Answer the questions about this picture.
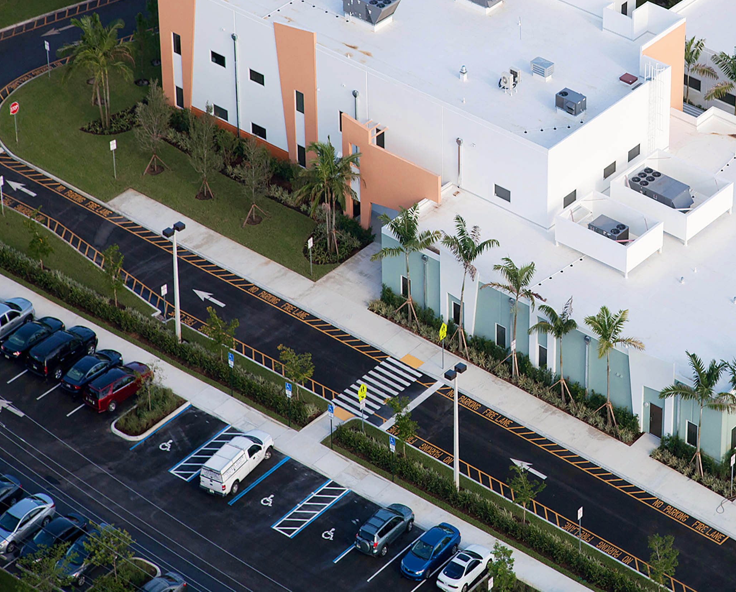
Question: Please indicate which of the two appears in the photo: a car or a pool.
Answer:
car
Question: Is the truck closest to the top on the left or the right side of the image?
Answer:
left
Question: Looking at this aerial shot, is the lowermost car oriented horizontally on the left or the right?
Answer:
left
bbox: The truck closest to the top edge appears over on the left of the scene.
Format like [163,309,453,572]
[0,295,37,335]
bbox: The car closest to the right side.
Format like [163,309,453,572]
[430,541,500,592]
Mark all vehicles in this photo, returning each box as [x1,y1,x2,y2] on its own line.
[0,295,37,335]
[0,474,19,505]
[22,326,102,382]
[28,507,95,564]
[83,363,158,415]
[0,496,59,554]
[394,525,465,582]
[349,505,420,558]
[190,429,279,495]
[0,314,65,364]
[430,541,500,592]
[54,349,127,400]
[127,563,190,592]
